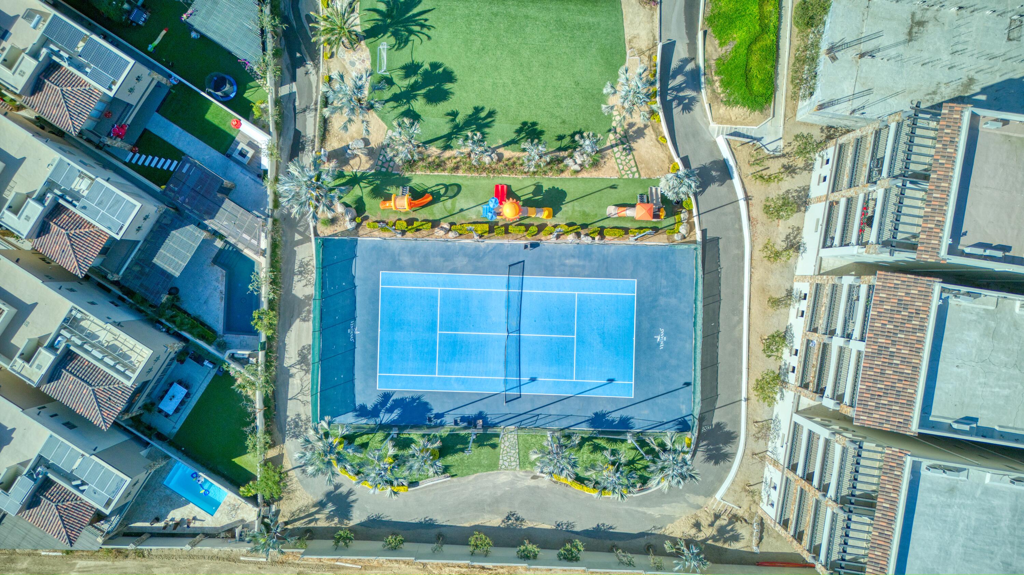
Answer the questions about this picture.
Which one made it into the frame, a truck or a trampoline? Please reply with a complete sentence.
Visible in the photo is a trampoline.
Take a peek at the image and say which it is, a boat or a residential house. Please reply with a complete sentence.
Looking from above, you can make out a residential house.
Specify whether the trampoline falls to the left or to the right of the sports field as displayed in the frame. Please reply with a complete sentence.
Compared with the sports field, the trampoline is located further to the left.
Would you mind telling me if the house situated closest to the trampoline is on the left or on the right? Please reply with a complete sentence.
The house situated closest to the trampoline sits on the left side.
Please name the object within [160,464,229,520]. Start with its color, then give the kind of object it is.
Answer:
blue swimming pool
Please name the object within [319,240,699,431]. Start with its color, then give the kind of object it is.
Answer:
blue tennis court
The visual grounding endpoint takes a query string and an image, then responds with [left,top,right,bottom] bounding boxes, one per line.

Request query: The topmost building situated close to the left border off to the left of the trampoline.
[0,0,188,159]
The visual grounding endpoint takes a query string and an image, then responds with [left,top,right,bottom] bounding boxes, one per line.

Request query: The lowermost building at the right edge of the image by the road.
[761,408,1024,575]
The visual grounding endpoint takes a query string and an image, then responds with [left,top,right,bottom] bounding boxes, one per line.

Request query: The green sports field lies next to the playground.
[359,0,626,152]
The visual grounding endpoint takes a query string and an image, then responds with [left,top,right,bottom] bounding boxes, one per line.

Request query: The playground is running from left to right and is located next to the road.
[323,170,683,229]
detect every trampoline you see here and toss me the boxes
[200,67,237,102]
